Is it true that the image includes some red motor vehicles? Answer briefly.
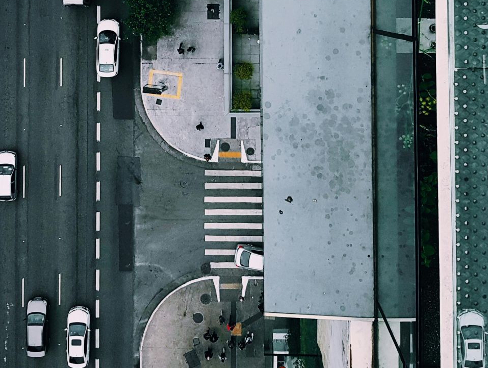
No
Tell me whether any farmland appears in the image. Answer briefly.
No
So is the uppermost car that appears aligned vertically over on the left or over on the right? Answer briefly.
left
